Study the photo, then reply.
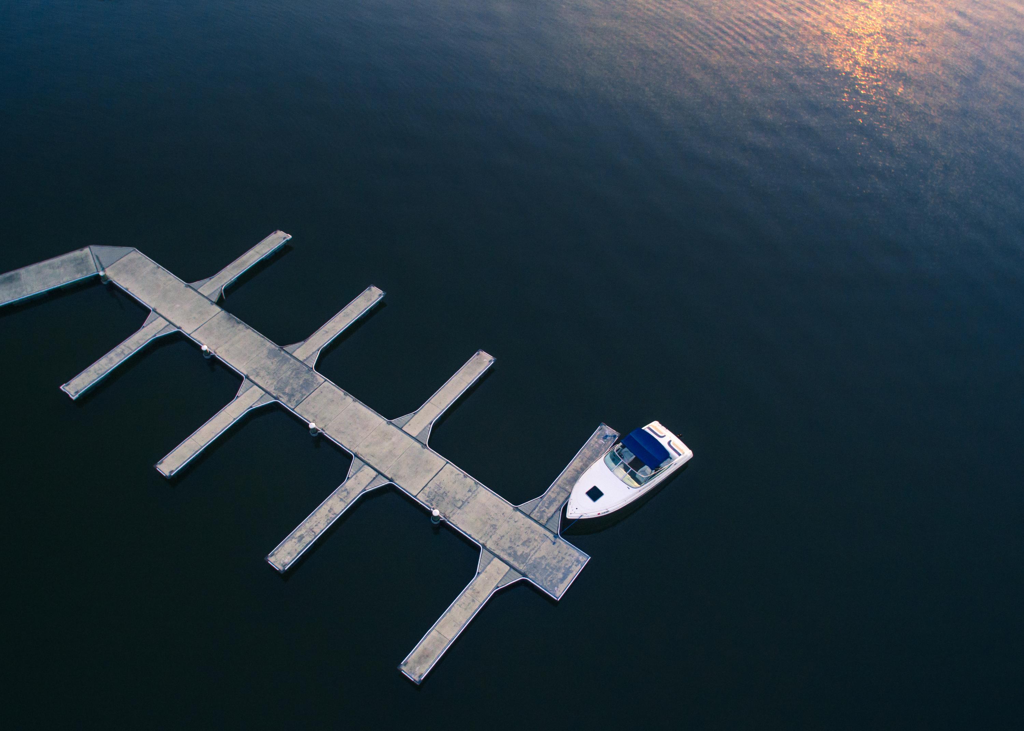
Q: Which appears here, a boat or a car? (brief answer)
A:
boat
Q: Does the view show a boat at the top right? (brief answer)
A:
No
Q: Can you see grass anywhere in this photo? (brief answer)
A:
No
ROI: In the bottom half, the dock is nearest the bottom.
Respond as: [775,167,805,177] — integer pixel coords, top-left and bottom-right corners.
[398,544,529,687]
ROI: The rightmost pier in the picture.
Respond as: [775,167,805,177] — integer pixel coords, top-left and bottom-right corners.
[512,423,620,539]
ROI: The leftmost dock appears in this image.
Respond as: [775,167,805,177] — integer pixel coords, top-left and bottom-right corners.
[60,309,182,402]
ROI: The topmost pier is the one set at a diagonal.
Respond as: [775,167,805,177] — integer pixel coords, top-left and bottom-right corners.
[186,231,292,306]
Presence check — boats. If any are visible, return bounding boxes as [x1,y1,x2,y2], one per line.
[565,421,692,520]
